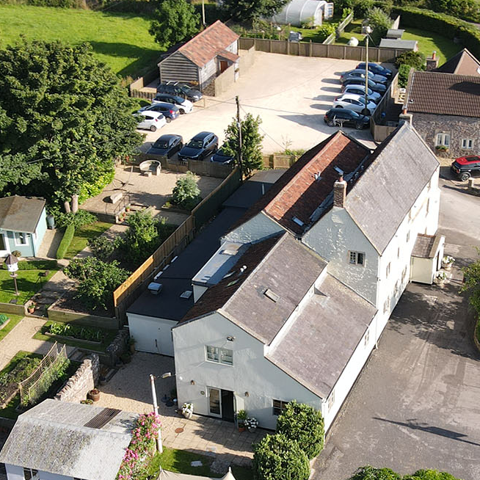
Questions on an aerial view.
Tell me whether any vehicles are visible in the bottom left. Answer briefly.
No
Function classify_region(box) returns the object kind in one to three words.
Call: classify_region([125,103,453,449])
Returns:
building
